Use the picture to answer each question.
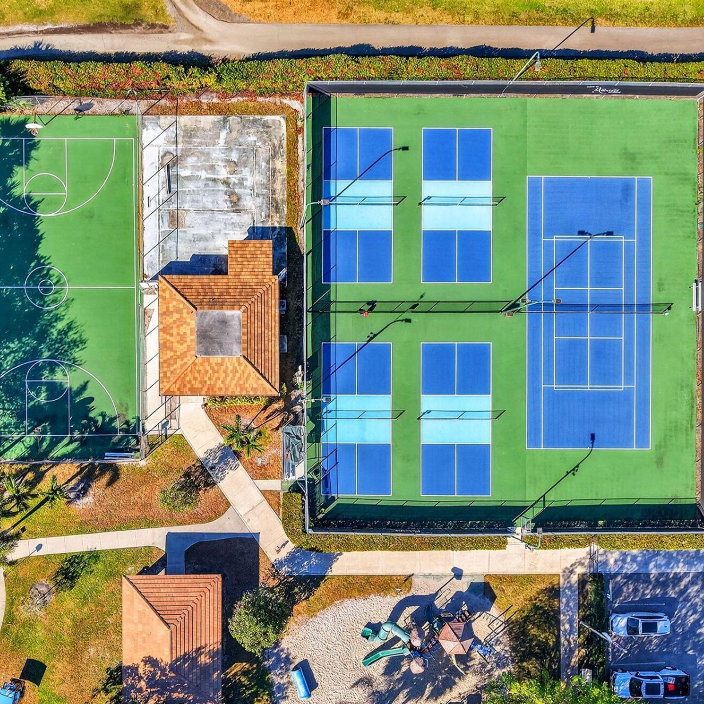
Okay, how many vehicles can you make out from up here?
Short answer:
two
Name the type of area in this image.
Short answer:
sports ground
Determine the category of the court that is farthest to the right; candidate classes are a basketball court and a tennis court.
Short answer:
tennis court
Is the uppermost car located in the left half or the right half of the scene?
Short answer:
right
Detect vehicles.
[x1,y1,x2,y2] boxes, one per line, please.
[611,666,689,700]
[608,612,668,640]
